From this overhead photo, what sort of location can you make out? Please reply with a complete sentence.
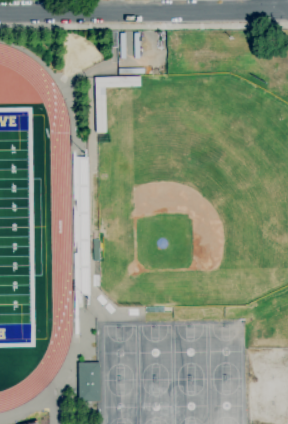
This image shows a sports ground.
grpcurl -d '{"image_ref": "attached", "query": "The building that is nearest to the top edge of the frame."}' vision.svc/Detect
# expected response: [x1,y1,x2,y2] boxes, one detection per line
[94,75,140,131]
